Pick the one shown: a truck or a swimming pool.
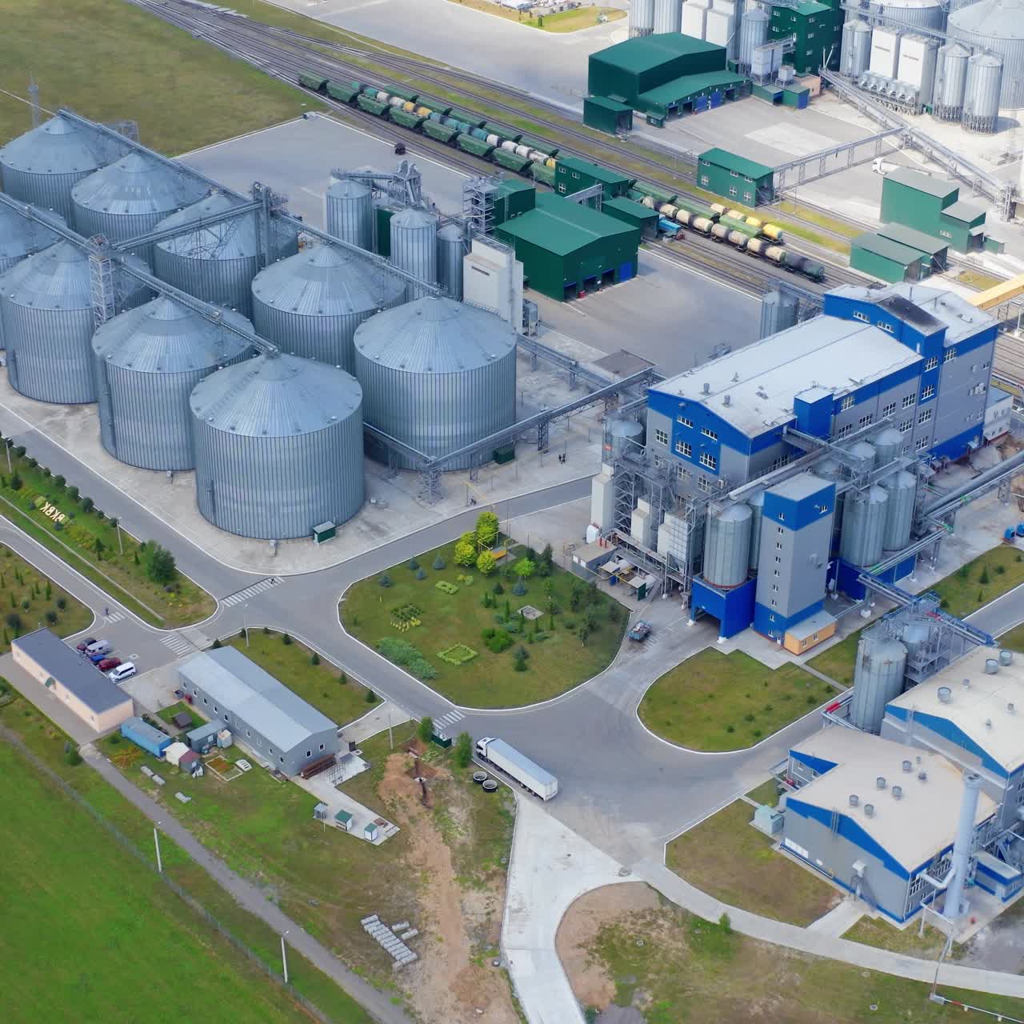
truck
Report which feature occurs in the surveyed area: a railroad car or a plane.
railroad car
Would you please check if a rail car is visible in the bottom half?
No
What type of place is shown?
industrial area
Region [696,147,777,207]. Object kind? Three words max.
building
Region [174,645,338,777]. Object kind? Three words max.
building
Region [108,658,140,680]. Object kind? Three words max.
vehicle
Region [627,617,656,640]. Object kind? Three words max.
truck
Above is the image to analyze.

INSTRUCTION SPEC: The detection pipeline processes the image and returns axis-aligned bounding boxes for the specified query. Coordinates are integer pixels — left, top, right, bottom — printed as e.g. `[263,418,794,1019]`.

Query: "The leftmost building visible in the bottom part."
[9,624,135,731]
